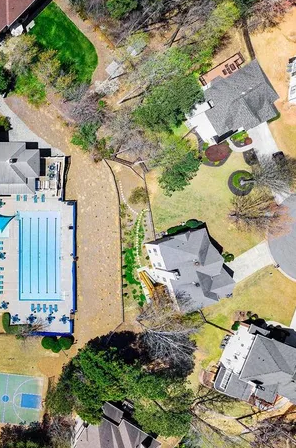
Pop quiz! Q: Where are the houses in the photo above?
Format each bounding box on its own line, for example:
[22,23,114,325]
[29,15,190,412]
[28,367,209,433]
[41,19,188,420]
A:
[187,52,279,141]
[287,65,296,109]
[0,142,39,195]
[0,0,42,37]
[137,227,235,313]
[205,322,296,414]
[66,415,161,448]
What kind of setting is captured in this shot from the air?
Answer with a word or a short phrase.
residential area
